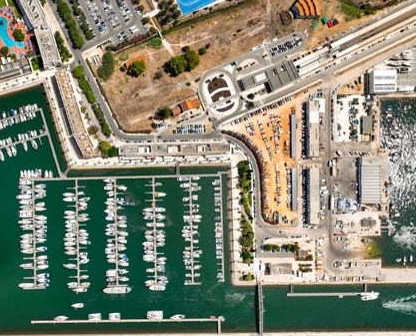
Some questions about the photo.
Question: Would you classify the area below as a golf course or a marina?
marina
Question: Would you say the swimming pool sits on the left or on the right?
left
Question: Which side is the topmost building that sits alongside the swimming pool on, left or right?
left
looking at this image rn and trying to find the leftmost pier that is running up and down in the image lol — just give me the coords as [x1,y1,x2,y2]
[22,180,45,289]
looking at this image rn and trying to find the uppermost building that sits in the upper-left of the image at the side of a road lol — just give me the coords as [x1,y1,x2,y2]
[22,0,53,32]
